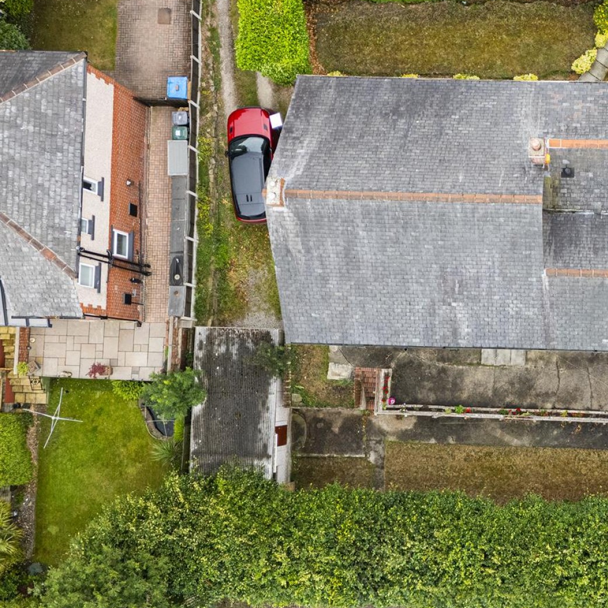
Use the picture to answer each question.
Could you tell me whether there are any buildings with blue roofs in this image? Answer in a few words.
No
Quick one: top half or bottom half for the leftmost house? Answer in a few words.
top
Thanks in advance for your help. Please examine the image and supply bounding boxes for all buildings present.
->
[188,326,295,482]
[0,49,149,326]
[262,74,608,352]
